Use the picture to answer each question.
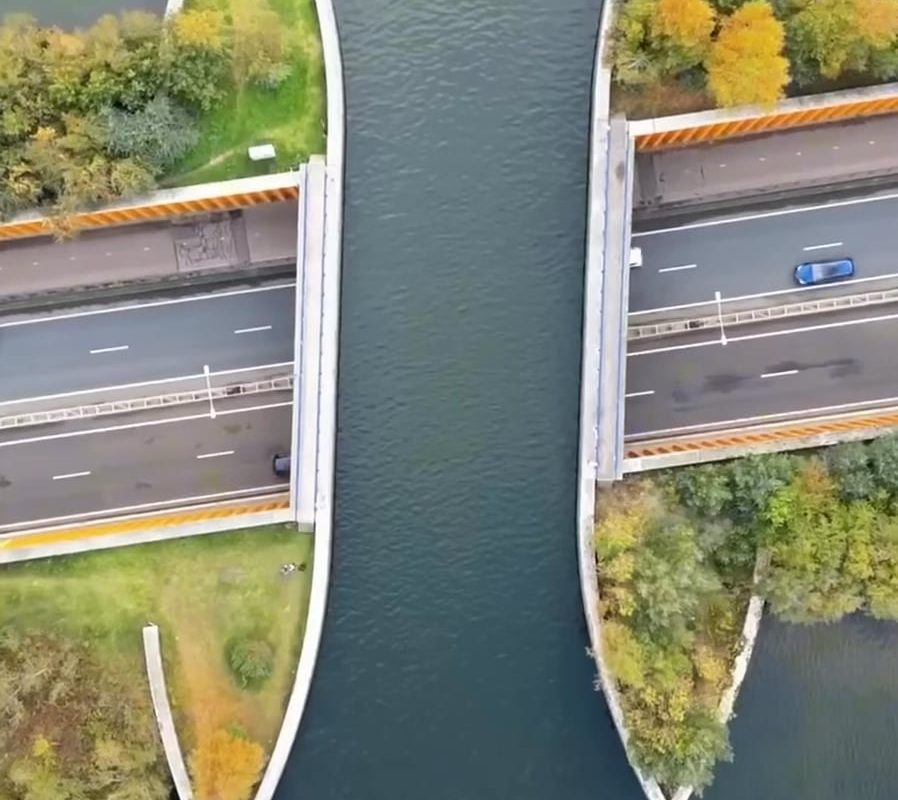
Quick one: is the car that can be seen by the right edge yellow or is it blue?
blue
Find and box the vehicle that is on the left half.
[272,453,291,475]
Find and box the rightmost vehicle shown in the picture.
[794,257,855,286]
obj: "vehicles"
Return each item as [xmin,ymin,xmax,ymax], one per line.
[630,248,640,272]
[272,453,291,475]
[794,257,855,286]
